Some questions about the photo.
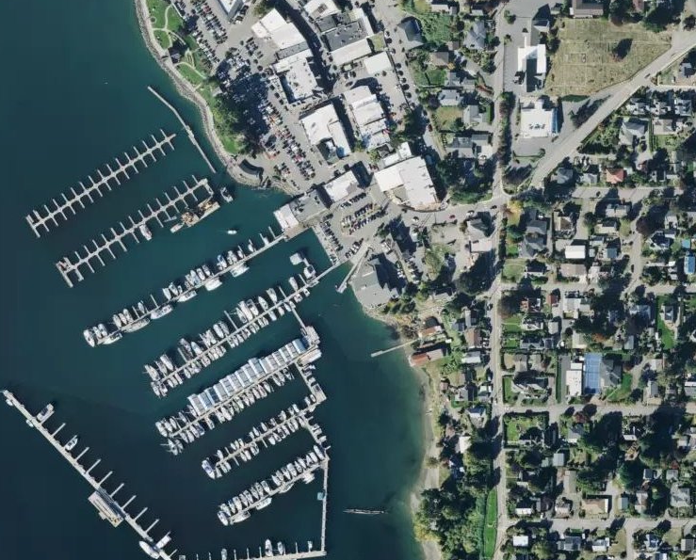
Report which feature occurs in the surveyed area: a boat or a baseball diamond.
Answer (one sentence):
I can see a boat in this picture.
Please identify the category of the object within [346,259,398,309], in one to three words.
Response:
building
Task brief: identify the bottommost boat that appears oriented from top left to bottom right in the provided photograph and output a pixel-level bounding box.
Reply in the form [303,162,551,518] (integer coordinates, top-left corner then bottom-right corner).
[140,542,162,560]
